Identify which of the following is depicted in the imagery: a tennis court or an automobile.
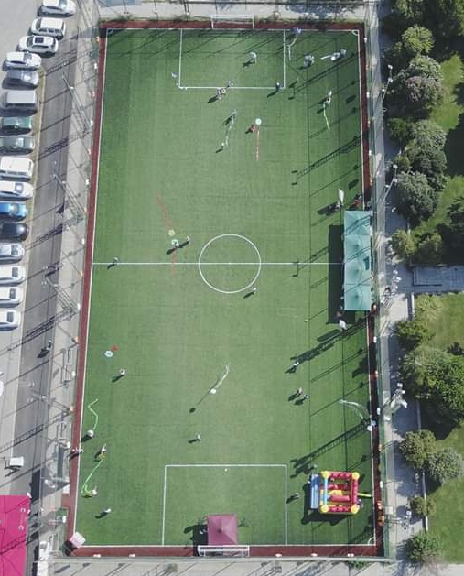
automobile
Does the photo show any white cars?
Yes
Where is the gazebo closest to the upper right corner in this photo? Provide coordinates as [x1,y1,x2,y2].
[342,211,371,241]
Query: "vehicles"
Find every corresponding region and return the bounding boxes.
[2,68,39,88]
[3,51,41,69]
[0,201,28,221]
[32,18,65,37]
[0,116,32,134]
[41,0,75,17]
[0,157,34,178]
[0,310,20,330]
[0,267,25,285]
[0,91,38,111]
[0,220,28,240]
[0,181,34,199]
[0,133,35,154]
[0,288,23,306]
[18,34,57,55]
[0,244,23,262]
